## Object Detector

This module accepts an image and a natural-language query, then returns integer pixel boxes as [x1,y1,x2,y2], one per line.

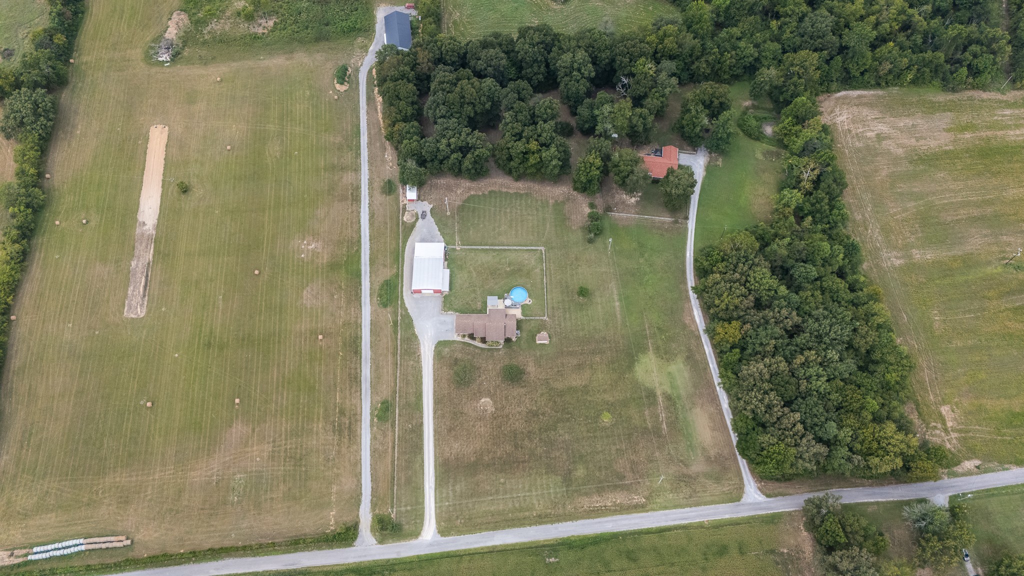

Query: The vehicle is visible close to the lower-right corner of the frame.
[959,547,972,563]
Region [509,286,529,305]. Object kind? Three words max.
swimming pool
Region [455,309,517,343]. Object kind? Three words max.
house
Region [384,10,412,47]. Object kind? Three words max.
barn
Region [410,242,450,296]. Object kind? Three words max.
barn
